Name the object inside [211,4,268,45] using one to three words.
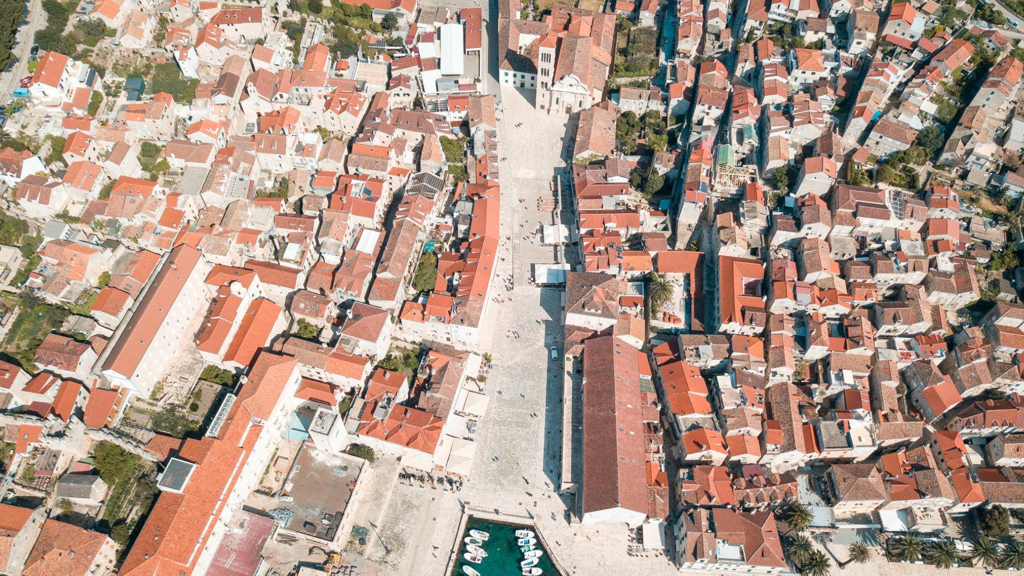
house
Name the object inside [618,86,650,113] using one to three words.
house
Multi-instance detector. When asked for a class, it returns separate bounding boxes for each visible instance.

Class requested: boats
[512,529,536,538]
[518,555,545,569]
[516,538,540,546]
[520,567,547,576]
[469,530,492,541]
[517,545,537,554]
[462,537,485,547]
[458,564,484,576]
[520,549,547,560]
[458,553,485,564]
[465,545,489,559]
